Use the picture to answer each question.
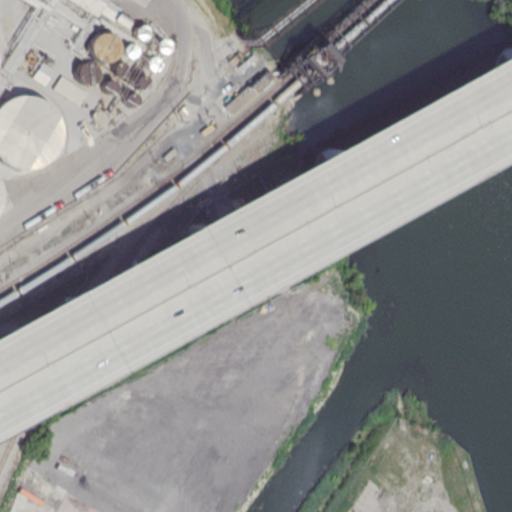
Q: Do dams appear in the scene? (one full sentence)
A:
No, this view has no dam in it.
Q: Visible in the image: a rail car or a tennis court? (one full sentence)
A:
It is a rail car that can be seen here.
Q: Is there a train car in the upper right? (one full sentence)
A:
Yes, there is a train car in the upper right.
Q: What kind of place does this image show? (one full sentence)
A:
The area seen from above is an industrial area.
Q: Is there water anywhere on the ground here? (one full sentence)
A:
Yes, there's water in this view.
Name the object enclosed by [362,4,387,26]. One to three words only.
rail car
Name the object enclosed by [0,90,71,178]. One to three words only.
storage tank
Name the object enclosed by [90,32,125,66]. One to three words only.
storage tank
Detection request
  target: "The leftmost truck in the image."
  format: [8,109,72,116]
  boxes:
[22,202,62,229]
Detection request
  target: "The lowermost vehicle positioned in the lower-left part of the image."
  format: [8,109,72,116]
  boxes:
[54,462,76,477]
